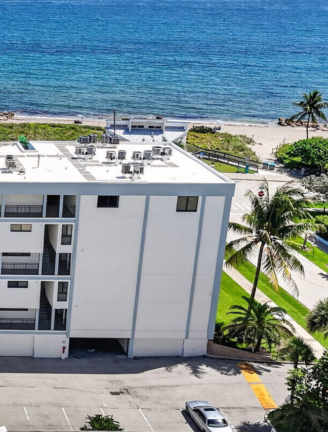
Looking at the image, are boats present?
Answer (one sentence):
No, I find no boat anywhere in the image.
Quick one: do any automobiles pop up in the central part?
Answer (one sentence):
No, no automobile can be made out in the central part.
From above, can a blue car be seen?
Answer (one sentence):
No, there isn't any blue car down there.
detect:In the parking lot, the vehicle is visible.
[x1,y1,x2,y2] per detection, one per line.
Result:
[189,402,237,431]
